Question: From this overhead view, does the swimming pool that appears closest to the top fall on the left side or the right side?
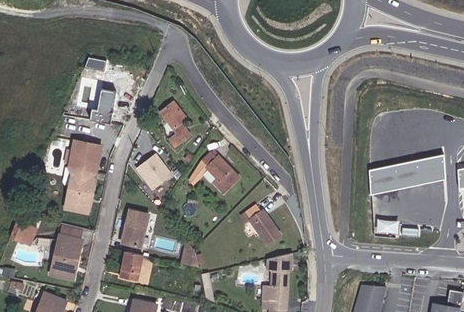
left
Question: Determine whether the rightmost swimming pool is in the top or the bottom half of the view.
bottom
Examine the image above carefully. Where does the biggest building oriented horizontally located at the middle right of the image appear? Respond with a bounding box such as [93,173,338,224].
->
[368,154,445,196]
